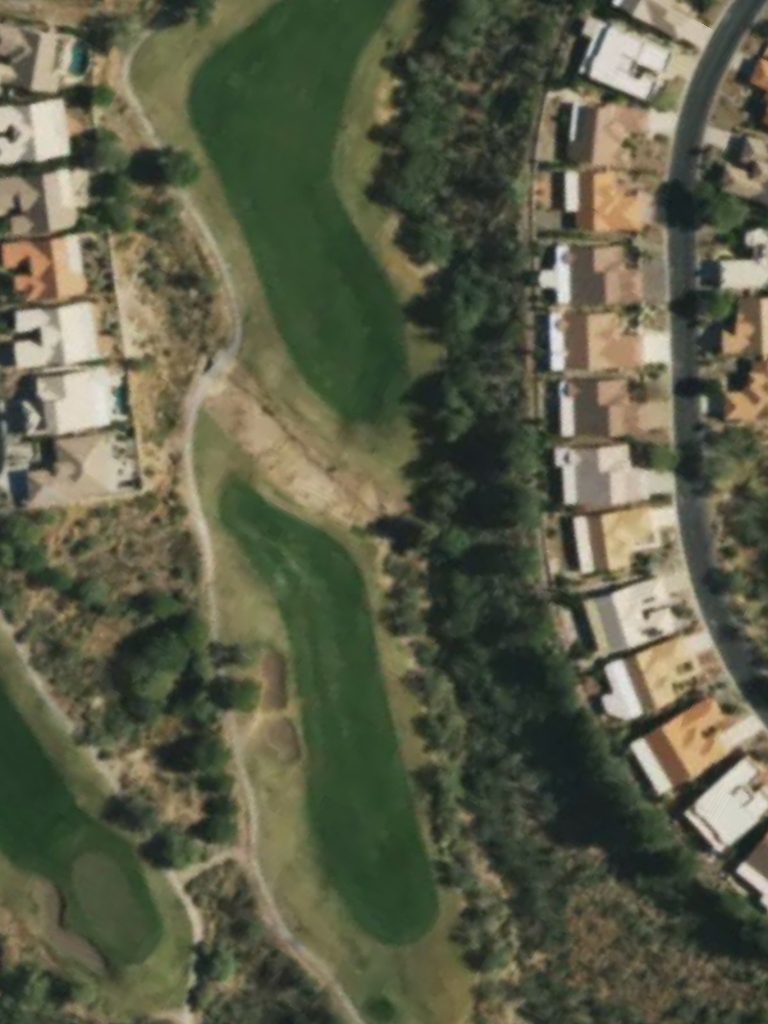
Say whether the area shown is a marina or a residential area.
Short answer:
residential area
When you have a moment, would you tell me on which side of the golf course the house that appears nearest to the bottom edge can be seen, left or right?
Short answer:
right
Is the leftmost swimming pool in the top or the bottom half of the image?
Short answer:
top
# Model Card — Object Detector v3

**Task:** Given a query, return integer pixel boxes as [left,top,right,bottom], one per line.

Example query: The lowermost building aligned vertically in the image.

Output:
[737,835,768,898]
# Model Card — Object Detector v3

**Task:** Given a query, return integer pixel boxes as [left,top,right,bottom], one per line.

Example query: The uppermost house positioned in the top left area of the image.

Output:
[0,20,66,92]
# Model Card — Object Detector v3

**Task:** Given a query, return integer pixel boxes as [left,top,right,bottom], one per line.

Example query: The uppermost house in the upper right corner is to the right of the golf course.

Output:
[614,0,690,35]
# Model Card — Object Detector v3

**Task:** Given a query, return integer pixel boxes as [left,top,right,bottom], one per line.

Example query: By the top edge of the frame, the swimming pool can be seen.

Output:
[69,42,89,76]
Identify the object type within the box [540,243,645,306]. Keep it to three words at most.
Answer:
house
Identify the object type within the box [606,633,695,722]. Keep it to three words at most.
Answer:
house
